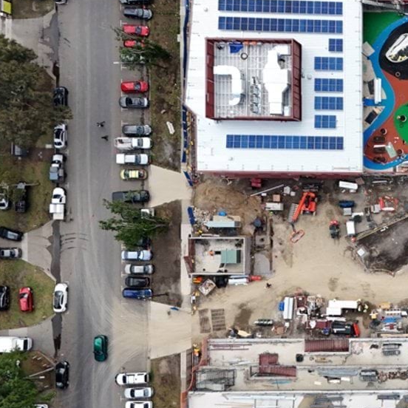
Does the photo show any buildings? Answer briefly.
Yes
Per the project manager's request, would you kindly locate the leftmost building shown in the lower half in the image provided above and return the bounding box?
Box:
[185,237,253,277]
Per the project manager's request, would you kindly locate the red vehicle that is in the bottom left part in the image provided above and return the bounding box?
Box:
[19,287,34,313]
